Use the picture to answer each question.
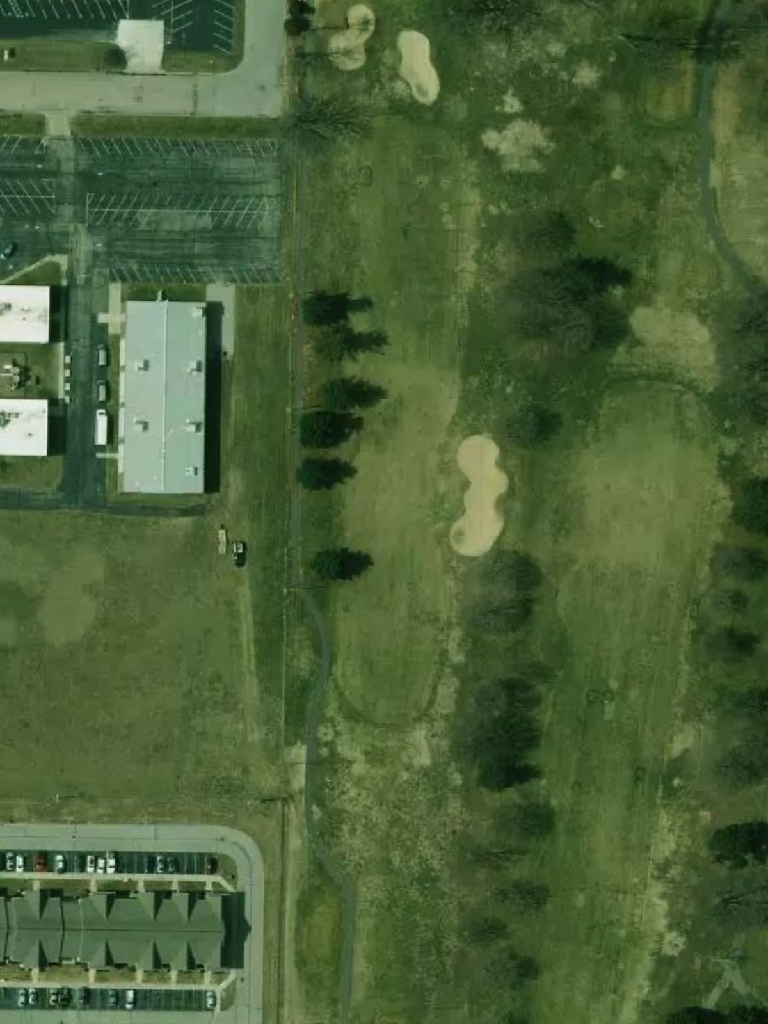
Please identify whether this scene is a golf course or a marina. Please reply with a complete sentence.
This looks like a golf course.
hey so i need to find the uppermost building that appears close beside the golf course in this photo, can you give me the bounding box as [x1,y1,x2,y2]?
[119,289,206,494]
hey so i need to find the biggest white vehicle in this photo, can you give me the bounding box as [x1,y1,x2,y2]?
[95,409,107,445]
